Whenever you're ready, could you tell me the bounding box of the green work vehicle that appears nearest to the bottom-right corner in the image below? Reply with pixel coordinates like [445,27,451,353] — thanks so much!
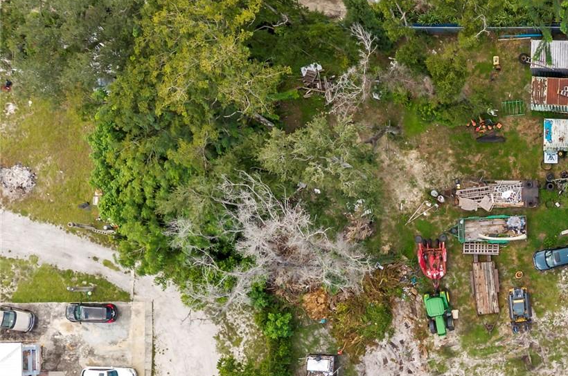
[424,297,452,340]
